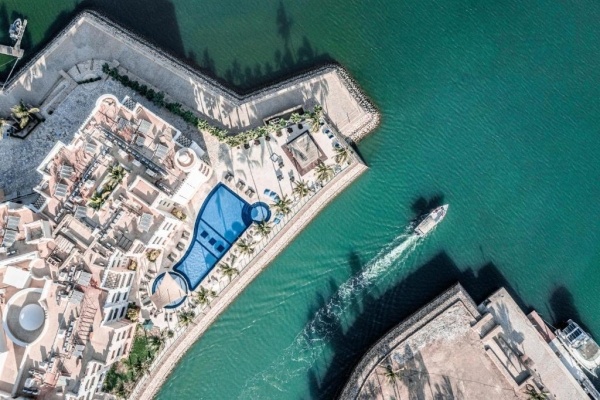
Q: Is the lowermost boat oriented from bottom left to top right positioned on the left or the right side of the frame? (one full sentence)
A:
The lowermost boat oriented from bottom left to top right sits on the right side.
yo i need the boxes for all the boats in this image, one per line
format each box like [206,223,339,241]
[550,313,600,377]
[12,14,25,33]
[412,204,449,235]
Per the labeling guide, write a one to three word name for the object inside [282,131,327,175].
gazebo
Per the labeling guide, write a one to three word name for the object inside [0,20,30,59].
pier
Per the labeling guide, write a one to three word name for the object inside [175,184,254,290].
swimming pool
